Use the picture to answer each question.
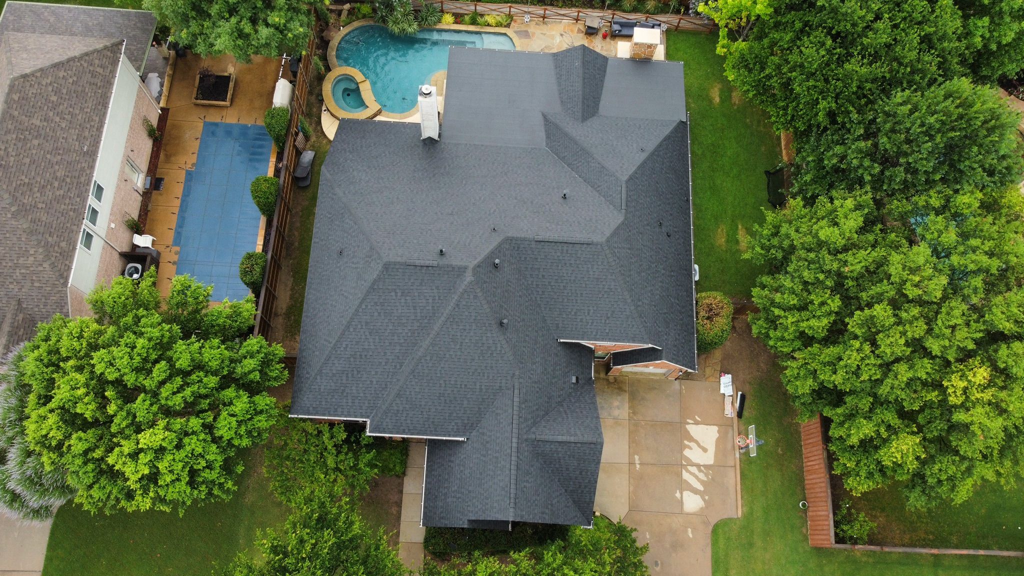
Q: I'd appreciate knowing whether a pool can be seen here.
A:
Yes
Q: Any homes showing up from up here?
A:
Yes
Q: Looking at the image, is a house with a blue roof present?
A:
No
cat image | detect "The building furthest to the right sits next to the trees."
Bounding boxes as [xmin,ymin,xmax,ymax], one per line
[288,44,699,532]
